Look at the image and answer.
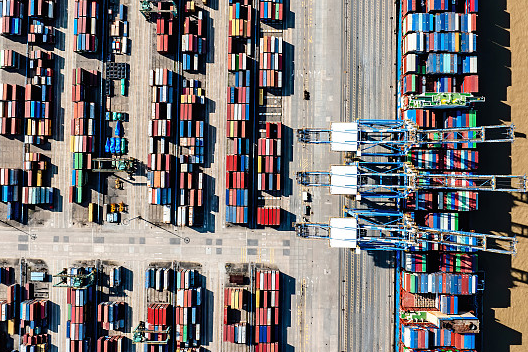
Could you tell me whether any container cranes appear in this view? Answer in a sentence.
Yes, a container crane appears in the view.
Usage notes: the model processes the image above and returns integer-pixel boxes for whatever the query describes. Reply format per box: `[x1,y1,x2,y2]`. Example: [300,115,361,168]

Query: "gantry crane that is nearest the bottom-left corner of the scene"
[52,267,97,289]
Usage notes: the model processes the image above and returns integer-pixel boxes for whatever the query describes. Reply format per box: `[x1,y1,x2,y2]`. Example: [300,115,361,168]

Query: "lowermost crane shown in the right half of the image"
[294,205,512,256]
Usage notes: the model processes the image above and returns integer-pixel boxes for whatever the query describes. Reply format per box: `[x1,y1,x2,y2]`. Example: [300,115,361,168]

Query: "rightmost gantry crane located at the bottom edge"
[130,321,173,346]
